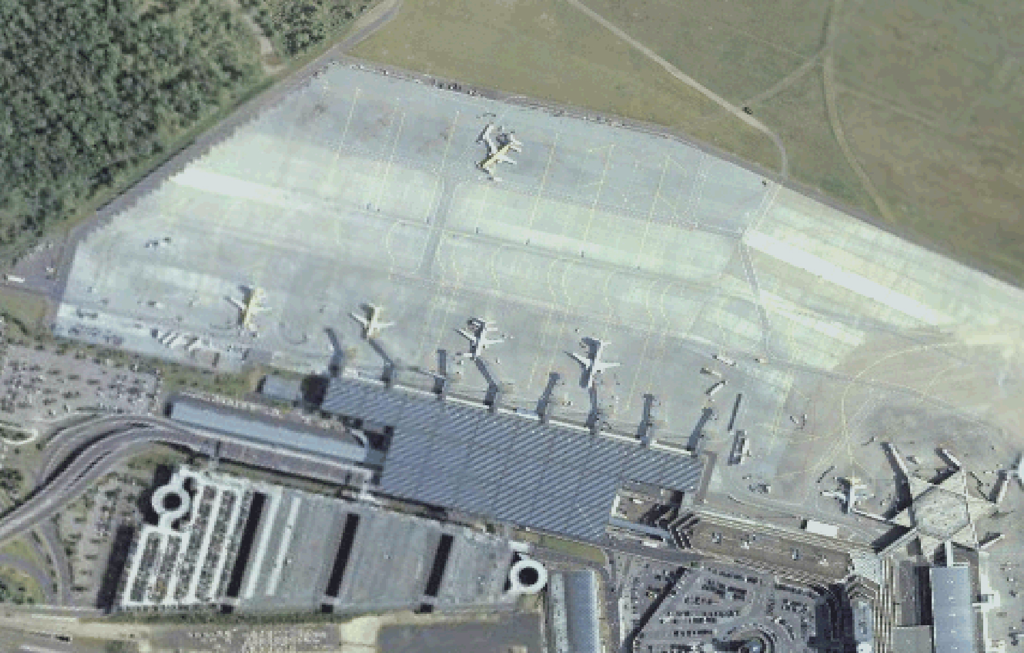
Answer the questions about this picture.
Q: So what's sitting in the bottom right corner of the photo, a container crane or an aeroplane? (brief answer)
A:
aeroplane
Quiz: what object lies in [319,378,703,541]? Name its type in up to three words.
building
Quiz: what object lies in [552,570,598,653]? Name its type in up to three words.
hangar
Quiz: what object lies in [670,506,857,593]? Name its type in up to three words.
building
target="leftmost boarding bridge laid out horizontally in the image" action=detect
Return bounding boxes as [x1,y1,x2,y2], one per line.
[852,508,895,522]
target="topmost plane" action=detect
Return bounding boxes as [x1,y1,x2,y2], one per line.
[480,133,520,169]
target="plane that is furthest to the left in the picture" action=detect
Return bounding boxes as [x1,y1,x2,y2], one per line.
[234,284,275,329]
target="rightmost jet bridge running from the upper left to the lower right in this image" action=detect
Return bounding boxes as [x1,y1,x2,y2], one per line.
[940,448,966,471]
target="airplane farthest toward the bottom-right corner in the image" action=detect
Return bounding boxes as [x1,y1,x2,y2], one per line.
[828,473,877,515]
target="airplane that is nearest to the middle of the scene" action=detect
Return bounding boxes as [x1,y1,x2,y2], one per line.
[462,316,505,358]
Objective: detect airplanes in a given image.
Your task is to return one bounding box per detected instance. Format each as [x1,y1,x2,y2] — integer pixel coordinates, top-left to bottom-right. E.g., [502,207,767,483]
[480,133,520,169]
[356,301,396,338]
[828,473,877,515]
[575,337,621,390]
[462,316,505,358]
[234,284,275,329]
